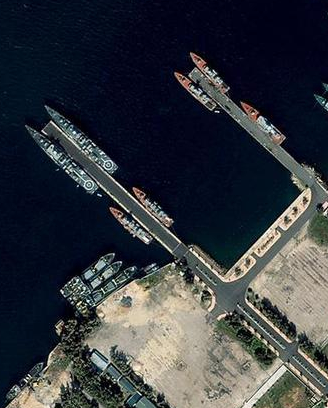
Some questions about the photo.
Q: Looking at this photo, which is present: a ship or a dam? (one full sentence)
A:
Looking from above, you can make out a ship.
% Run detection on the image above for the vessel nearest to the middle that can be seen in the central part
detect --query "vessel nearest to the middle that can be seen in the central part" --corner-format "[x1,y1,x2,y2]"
[134,187,176,228]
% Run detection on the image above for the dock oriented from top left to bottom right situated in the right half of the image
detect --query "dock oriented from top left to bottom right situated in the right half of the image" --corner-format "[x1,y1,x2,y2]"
[188,67,304,177]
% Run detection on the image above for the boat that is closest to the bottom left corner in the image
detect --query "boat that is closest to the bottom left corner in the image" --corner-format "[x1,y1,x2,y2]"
[4,384,20,400]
